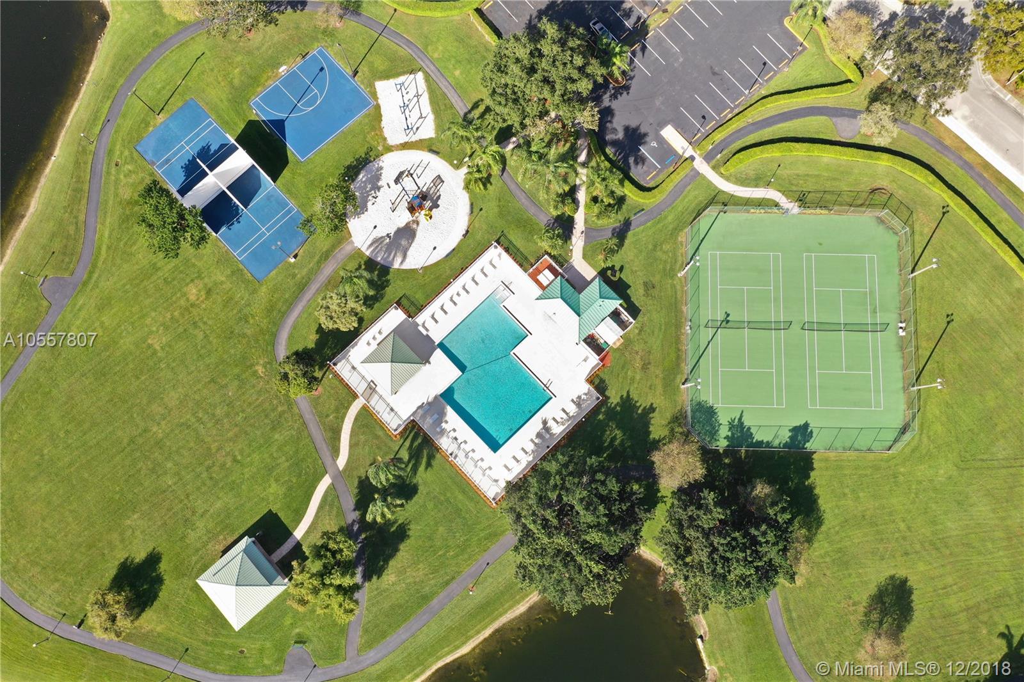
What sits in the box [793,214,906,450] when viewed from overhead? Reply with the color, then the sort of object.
green tennis court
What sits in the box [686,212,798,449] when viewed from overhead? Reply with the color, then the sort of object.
green tennis court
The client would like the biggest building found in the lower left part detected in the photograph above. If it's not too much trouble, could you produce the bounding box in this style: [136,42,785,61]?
[196,536,289,632]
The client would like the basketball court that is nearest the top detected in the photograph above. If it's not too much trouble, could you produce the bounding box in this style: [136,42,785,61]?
[249,45,376,161]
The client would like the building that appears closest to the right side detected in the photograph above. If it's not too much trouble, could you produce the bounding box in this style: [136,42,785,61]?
[535,275,623,344]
